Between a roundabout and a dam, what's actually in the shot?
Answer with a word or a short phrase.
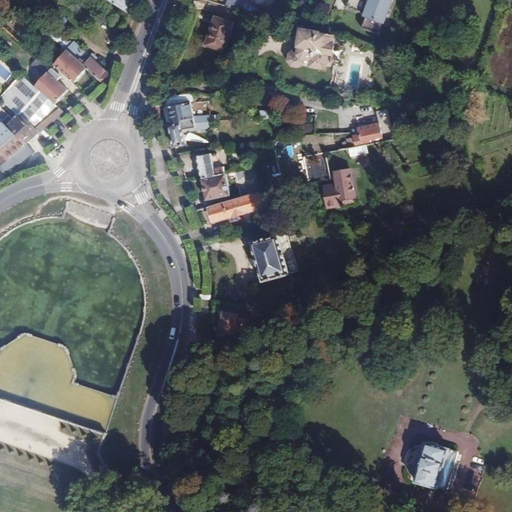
roundabout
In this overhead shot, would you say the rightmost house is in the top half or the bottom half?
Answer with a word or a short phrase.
bottom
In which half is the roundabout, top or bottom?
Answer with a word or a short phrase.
top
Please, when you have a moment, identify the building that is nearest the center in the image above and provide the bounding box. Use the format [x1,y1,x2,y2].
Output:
[250,235,299,284]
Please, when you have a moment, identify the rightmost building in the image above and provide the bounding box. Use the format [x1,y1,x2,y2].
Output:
[404,441,460,490]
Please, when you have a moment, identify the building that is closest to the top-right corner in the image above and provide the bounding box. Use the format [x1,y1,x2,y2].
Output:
[361,0,392,32]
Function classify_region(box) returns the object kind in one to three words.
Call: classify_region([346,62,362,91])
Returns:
swimming pool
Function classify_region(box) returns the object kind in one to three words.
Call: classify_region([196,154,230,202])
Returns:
house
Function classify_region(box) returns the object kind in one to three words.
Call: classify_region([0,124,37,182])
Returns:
building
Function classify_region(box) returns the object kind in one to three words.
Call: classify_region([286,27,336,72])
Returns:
house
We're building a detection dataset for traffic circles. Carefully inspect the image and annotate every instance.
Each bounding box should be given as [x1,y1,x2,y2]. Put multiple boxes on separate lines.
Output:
[53,116,146,208]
